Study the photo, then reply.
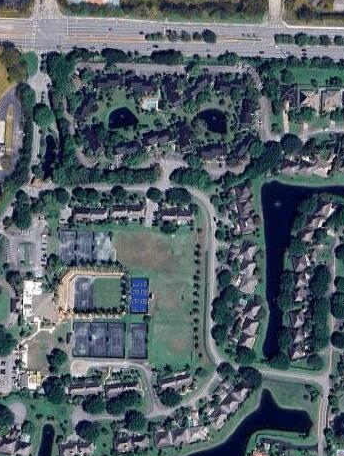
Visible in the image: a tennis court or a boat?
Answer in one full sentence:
Visible in the photo is a tennis court.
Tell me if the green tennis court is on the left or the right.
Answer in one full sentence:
The green tennis court sits on the left side.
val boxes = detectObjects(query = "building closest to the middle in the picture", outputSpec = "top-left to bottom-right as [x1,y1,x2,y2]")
[161,208,195,223]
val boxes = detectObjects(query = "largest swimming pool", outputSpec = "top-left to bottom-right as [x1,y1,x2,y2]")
[144,97,158,111]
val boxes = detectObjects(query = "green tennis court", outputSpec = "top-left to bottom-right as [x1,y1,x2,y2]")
[94,277,122,311]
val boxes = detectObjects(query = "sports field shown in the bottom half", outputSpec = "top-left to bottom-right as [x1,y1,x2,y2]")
[119,228,193,347]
